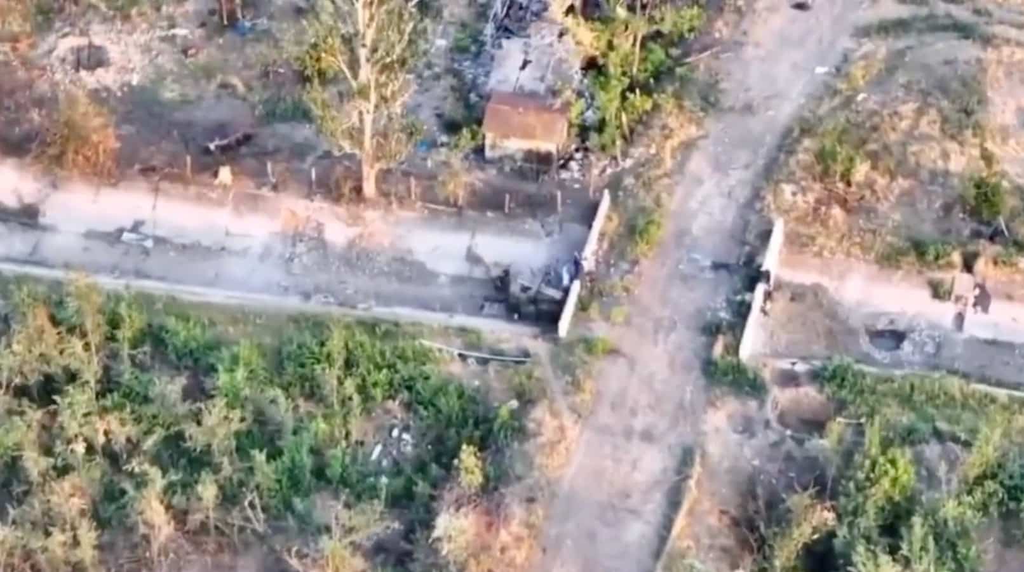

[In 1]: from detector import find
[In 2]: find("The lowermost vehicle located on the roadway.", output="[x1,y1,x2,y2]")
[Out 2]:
[472,259,573,326]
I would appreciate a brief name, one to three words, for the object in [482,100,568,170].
shed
